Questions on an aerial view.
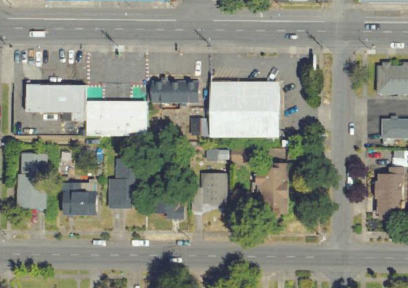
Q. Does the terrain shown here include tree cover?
Yes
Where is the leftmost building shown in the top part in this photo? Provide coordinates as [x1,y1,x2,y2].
[26,84,87,121]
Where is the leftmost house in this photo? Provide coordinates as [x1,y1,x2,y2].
[18,153,48,209]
